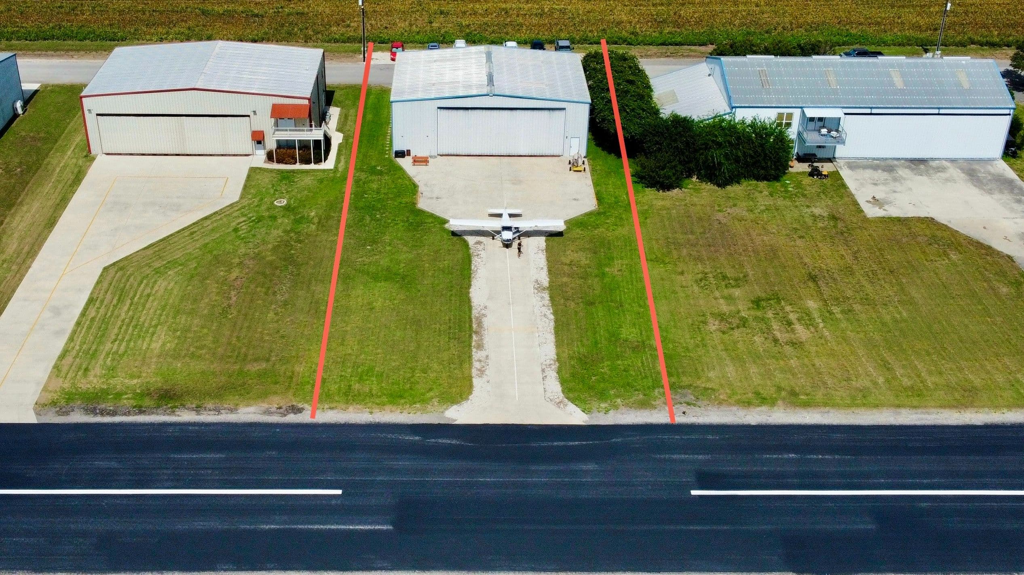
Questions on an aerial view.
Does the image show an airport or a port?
airport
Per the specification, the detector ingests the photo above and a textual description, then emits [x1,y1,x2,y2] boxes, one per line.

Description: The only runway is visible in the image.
[0,423,1024,572]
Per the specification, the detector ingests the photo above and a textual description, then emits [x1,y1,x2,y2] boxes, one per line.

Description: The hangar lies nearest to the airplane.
[390,44,591,157]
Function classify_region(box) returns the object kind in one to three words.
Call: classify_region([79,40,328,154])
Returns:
hangar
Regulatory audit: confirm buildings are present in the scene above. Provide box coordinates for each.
[704,54,1018,160]
[390,44,591,157]
[79,40,328,154]
[0,53,24,131]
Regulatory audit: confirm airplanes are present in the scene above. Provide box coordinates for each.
[450,199,564,249]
